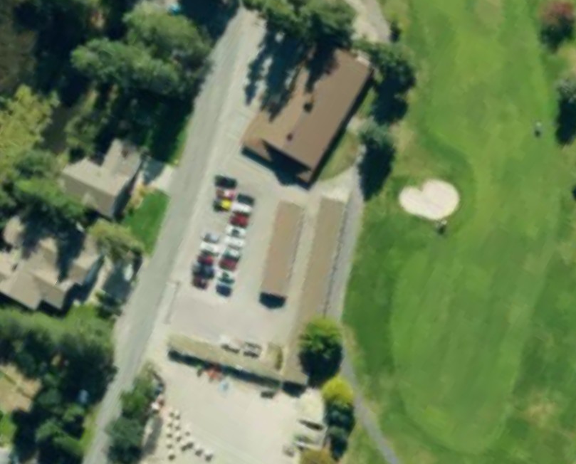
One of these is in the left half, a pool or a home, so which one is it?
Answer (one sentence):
The feature located in the left half is a home.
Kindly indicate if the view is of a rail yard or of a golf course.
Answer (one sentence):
The picture captures a golf course.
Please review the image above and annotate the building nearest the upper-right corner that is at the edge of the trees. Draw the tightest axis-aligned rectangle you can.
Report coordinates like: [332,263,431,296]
[244,39,369,185]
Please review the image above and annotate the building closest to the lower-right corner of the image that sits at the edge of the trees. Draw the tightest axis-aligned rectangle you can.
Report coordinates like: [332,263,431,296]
[298,388,324,425]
